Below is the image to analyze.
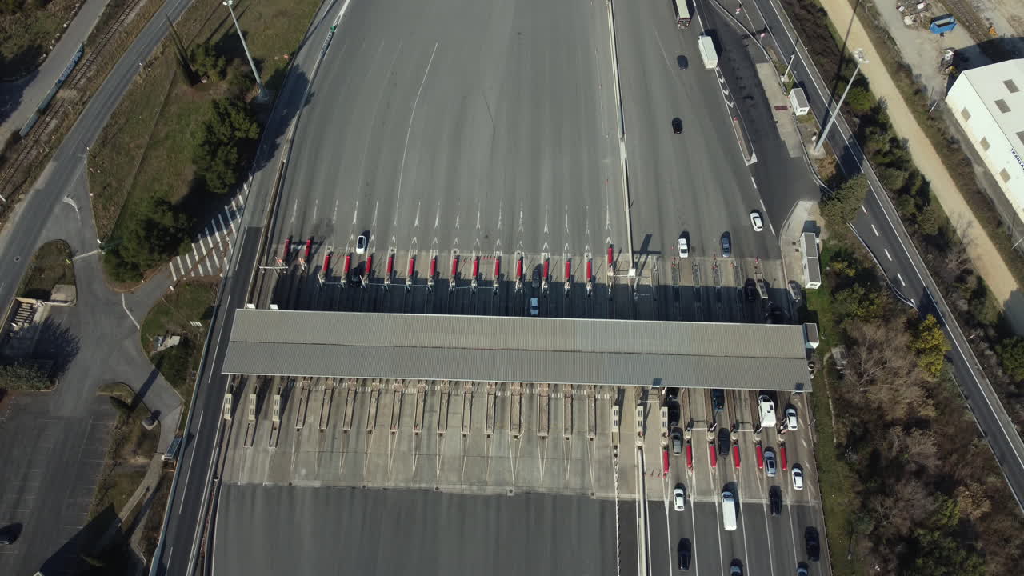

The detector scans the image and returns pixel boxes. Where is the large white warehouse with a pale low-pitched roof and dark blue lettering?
[945,53,1024,221]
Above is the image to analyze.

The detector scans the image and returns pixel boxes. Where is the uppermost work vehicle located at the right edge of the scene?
[983,19,1001,37]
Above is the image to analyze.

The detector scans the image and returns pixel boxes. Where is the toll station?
[203,242,821,506]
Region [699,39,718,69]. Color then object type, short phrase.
white vehicle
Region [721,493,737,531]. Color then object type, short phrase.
white vehicle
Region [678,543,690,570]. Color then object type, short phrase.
black vehicle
